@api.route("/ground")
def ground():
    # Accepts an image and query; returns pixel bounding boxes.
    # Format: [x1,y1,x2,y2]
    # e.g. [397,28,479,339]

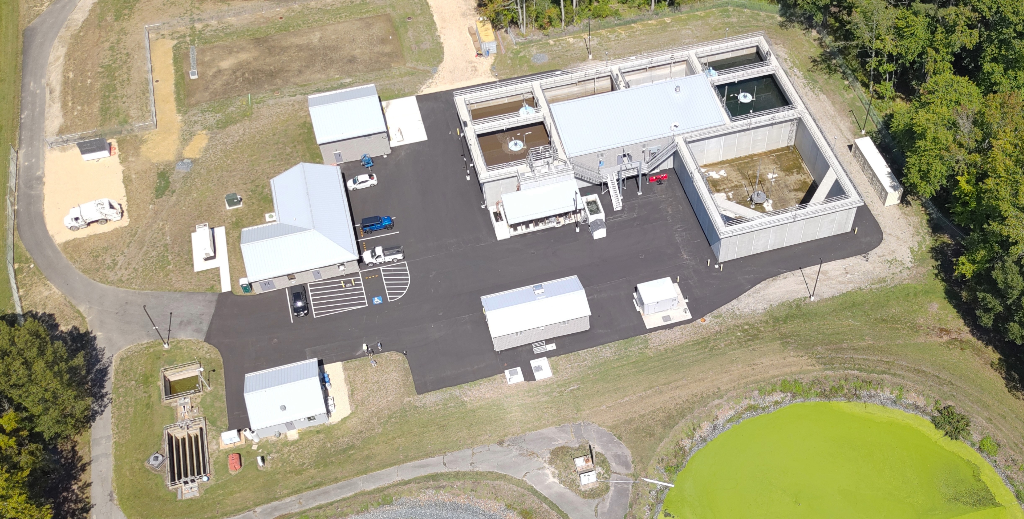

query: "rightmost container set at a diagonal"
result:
[853,136,905,205]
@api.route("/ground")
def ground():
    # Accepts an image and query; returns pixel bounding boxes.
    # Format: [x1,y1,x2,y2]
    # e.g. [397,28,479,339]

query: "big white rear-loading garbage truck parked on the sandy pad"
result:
[61,198,116,231]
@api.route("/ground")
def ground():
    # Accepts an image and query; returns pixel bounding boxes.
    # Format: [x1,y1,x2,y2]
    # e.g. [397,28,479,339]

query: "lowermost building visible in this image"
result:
[243,357,328,438]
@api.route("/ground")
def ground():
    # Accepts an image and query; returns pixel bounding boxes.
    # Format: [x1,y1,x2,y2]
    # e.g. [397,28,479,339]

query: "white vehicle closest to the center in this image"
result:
[363,243,404,266]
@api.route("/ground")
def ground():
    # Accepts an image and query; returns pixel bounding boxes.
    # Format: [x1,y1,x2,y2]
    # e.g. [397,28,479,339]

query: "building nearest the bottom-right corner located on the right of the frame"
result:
[637,276,678,315]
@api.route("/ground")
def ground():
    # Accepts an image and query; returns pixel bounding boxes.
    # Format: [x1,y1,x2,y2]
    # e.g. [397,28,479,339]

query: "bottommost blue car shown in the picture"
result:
[362,214,394,233]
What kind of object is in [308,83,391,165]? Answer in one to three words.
building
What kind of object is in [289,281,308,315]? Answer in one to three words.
vehicle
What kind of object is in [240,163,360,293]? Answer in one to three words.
building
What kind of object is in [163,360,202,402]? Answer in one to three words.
storage tank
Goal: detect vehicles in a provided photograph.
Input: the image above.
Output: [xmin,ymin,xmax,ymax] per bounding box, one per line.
[363,243,404,266]
[61,198,116,231]
[347,174,378,189]
[362,214,394,233]
[289,281,308,315]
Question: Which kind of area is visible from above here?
industrial area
